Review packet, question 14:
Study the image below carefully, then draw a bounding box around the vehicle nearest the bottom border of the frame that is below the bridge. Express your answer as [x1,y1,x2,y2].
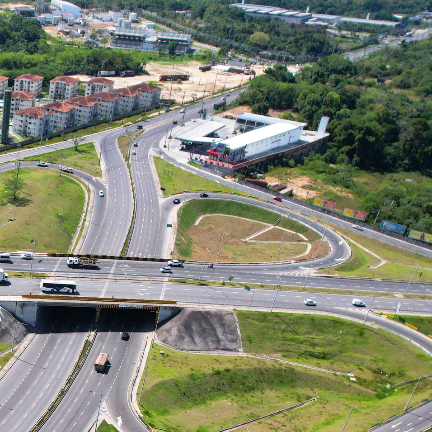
[95,351,109,371]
